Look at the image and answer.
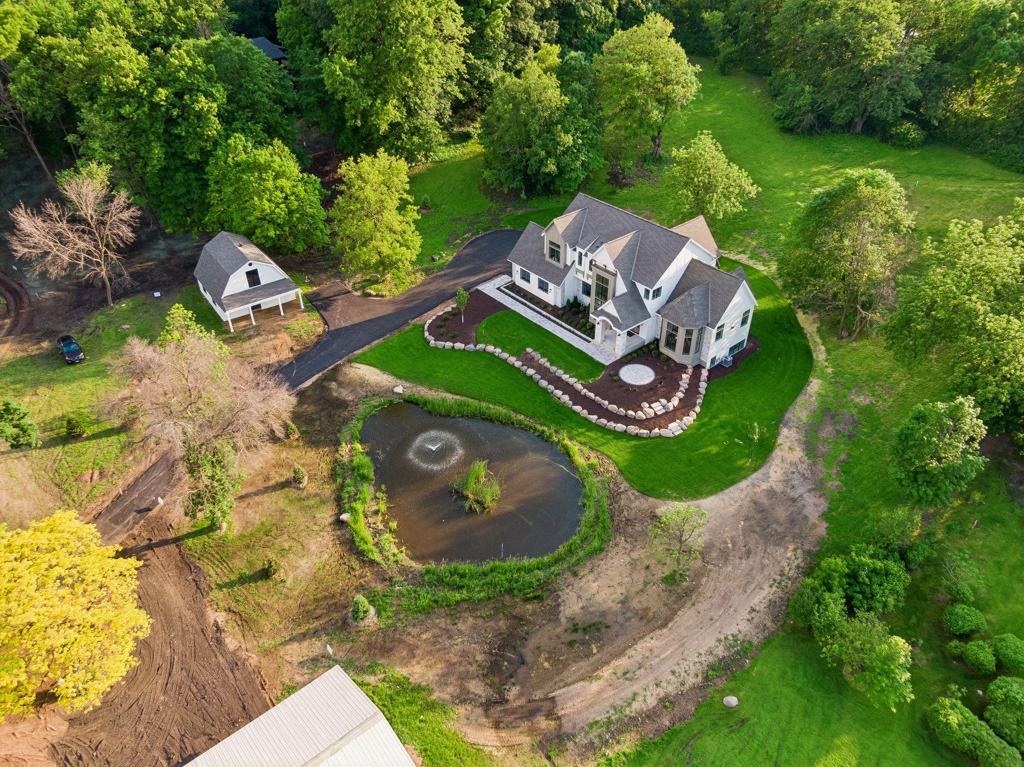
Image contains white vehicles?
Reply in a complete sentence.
No, the picture doesn't show any white vehicle.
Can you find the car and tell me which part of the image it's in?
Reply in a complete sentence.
Look in the left portion of the view to spot the car.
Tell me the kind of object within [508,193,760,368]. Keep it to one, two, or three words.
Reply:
house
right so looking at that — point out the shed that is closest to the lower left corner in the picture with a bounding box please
[185,664,417,767]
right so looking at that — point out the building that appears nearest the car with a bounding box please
[192,230,305,332]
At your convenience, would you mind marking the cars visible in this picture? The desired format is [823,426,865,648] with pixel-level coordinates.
[55,329,86,361]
